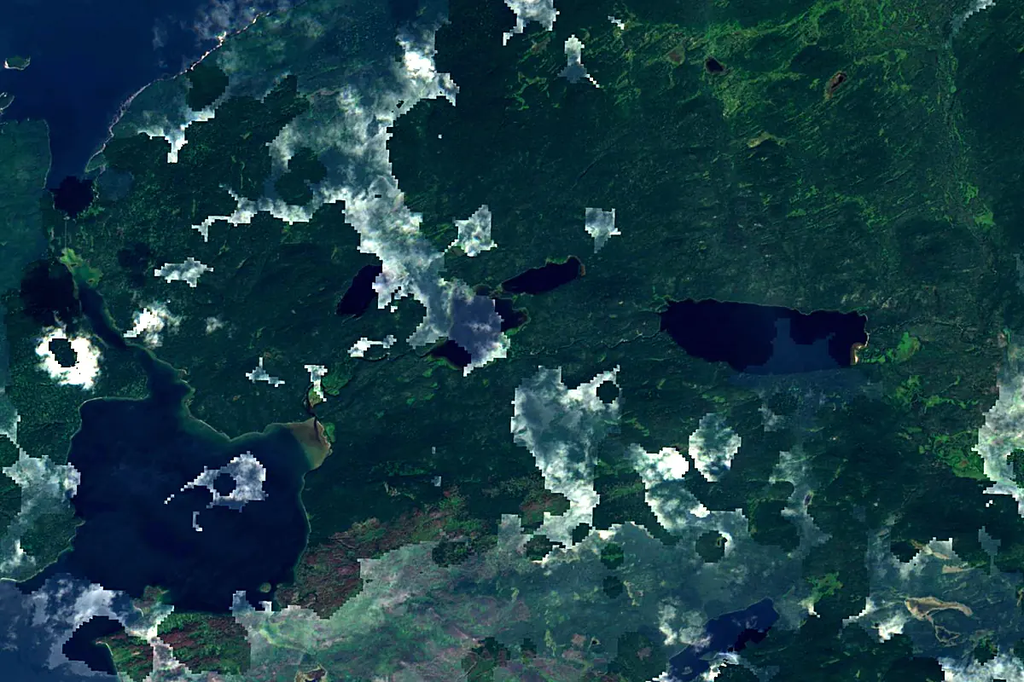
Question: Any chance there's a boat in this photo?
No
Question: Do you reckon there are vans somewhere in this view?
No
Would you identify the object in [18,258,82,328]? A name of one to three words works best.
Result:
pond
